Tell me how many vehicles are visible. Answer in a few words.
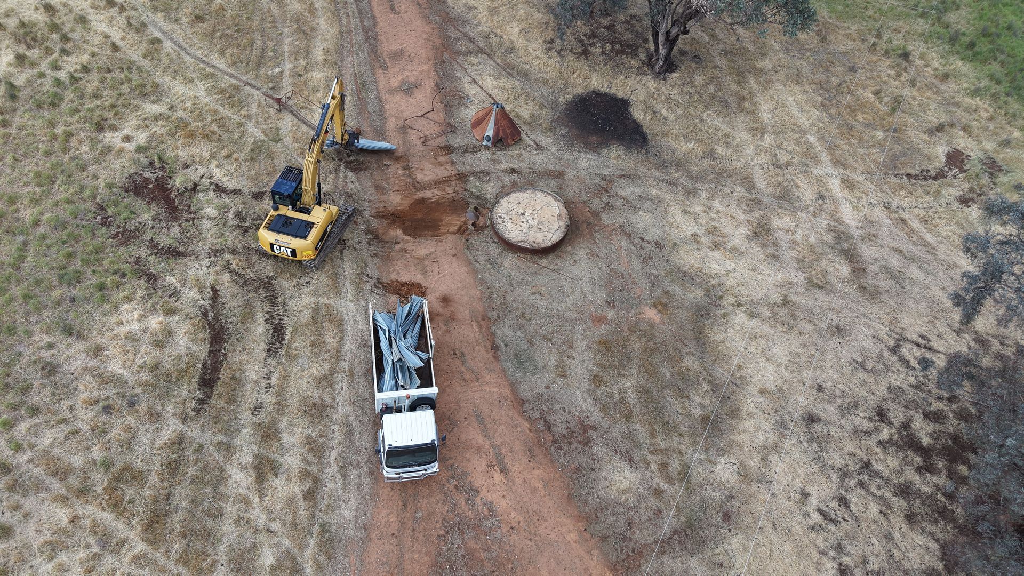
2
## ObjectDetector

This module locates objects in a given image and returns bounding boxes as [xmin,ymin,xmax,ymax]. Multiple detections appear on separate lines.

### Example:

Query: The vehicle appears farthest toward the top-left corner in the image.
[258,76,365,273]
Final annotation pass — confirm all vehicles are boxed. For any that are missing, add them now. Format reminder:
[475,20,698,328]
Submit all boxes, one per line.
[258,76,365,273]
[368,298,445,484]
